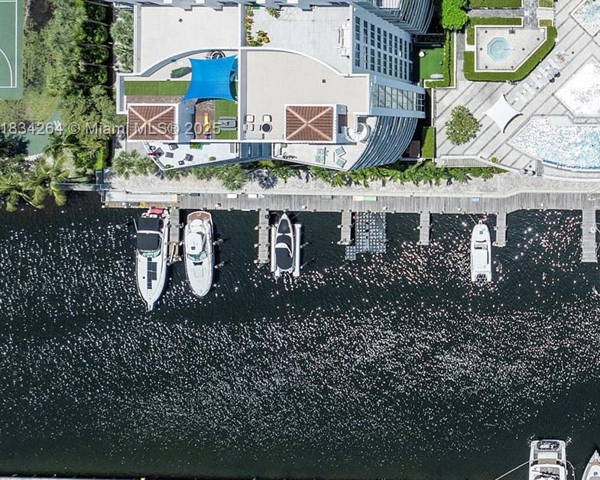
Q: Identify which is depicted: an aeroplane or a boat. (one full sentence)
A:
I can see a boat in this picture.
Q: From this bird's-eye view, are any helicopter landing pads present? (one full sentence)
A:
No, no helicopter landing pad is visible in the view.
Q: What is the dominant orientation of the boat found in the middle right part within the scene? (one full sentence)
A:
Seen from above, the boat found in the middle right part lies from top to bottom.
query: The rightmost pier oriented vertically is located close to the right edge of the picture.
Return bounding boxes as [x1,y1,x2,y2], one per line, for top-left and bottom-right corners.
[581,213,599,263]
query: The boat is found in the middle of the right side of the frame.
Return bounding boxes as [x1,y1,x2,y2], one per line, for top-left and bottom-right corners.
[471,220,494,284]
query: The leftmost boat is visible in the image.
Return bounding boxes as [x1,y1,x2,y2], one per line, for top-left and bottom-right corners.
[136,210,171,313]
